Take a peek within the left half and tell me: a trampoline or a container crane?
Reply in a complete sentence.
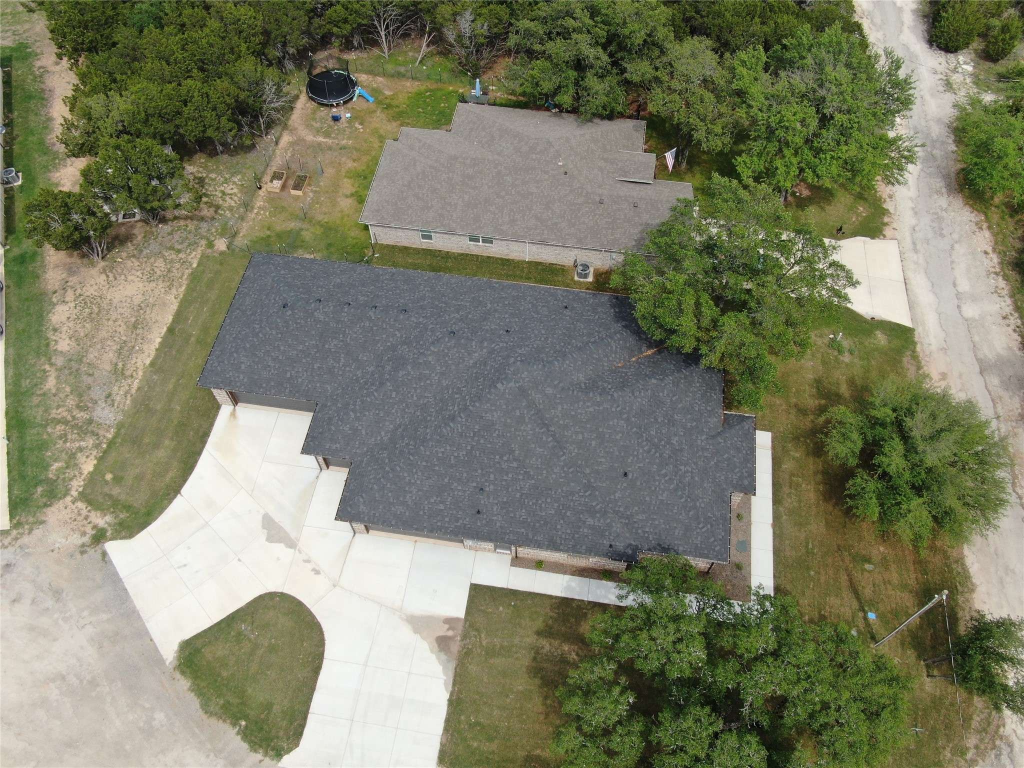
There is a trampoline within the left half.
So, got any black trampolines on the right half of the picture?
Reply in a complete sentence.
No, the scene shows no black trampoline on the right half of the picture.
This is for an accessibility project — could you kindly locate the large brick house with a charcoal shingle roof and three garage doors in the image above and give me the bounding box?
[198,252,757,577]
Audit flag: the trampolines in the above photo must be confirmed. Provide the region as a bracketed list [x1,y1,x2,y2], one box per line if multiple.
[302,56,359,107]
